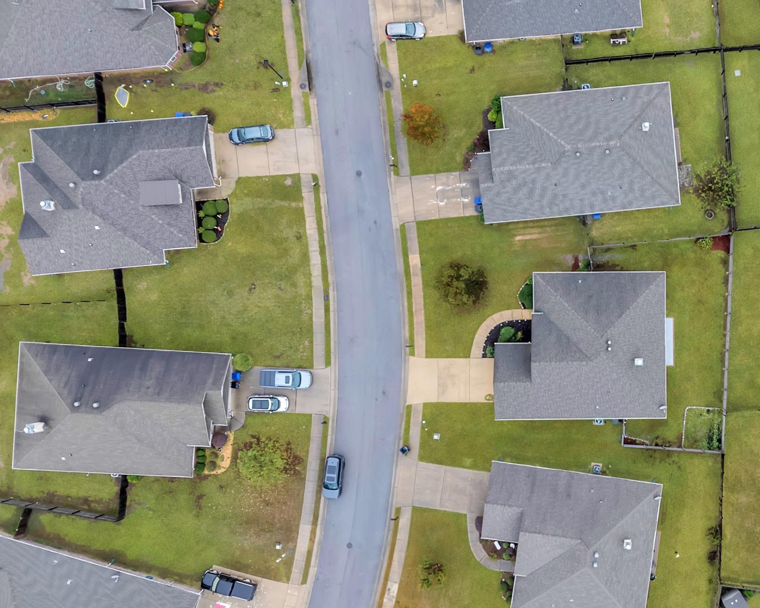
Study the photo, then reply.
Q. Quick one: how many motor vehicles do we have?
6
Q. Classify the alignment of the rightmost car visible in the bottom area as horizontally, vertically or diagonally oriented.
vertically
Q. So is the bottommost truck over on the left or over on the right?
left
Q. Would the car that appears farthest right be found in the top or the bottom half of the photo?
top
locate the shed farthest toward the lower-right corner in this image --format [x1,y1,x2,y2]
[720,590,748,608]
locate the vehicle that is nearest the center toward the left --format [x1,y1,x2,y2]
[258,368,313,390]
